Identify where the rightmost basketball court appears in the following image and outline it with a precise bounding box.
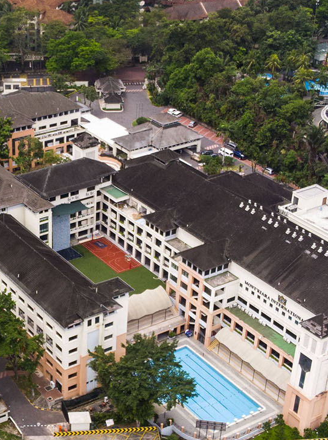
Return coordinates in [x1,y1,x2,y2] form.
[81,237,141,273]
